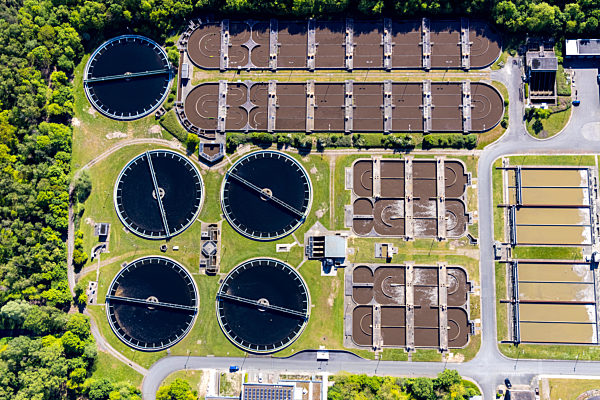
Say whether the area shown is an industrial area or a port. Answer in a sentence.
What you see here is an industrial area.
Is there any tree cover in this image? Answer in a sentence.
Yes, tree cover can be seen from above here.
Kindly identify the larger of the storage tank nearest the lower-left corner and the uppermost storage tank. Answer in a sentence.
The uppermost storage tank takes up more space than the storage tank nearest the lower-left corner does.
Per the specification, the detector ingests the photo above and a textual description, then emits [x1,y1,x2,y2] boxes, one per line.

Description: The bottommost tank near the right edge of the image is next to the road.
[499,259,599,346]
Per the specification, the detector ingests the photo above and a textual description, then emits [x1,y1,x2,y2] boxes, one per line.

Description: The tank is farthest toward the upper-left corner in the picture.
[83,36,175,121]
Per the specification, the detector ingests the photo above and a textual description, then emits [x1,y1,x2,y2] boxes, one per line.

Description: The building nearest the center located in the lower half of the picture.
[305,235,346,258]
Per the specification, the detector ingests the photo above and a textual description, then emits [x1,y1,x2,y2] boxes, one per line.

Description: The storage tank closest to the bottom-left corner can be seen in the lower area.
[105,255,201,352]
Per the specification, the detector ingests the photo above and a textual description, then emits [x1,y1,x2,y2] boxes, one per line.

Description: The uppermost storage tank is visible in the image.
[187,17,502,76]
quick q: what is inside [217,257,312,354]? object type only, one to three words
storage tank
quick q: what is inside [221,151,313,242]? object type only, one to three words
storage tank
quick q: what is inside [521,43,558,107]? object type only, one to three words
building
